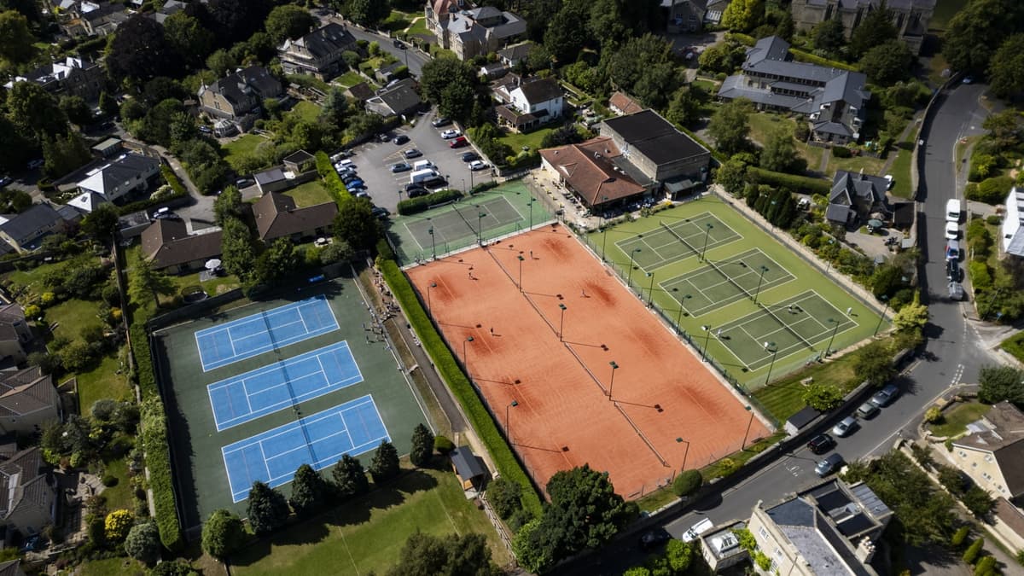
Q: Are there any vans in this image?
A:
Yes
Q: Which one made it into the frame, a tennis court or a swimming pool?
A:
tennis court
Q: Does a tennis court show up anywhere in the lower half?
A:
Yes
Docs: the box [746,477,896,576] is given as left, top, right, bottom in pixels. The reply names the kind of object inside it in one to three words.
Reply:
house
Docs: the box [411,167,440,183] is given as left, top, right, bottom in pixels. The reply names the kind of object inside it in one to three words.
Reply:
vehicle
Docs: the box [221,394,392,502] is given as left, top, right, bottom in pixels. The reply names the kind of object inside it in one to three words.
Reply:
tennis court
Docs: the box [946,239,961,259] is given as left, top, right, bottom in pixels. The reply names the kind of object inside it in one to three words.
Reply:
car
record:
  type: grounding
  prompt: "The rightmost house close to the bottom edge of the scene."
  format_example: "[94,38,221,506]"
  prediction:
[945,402,1024,560]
